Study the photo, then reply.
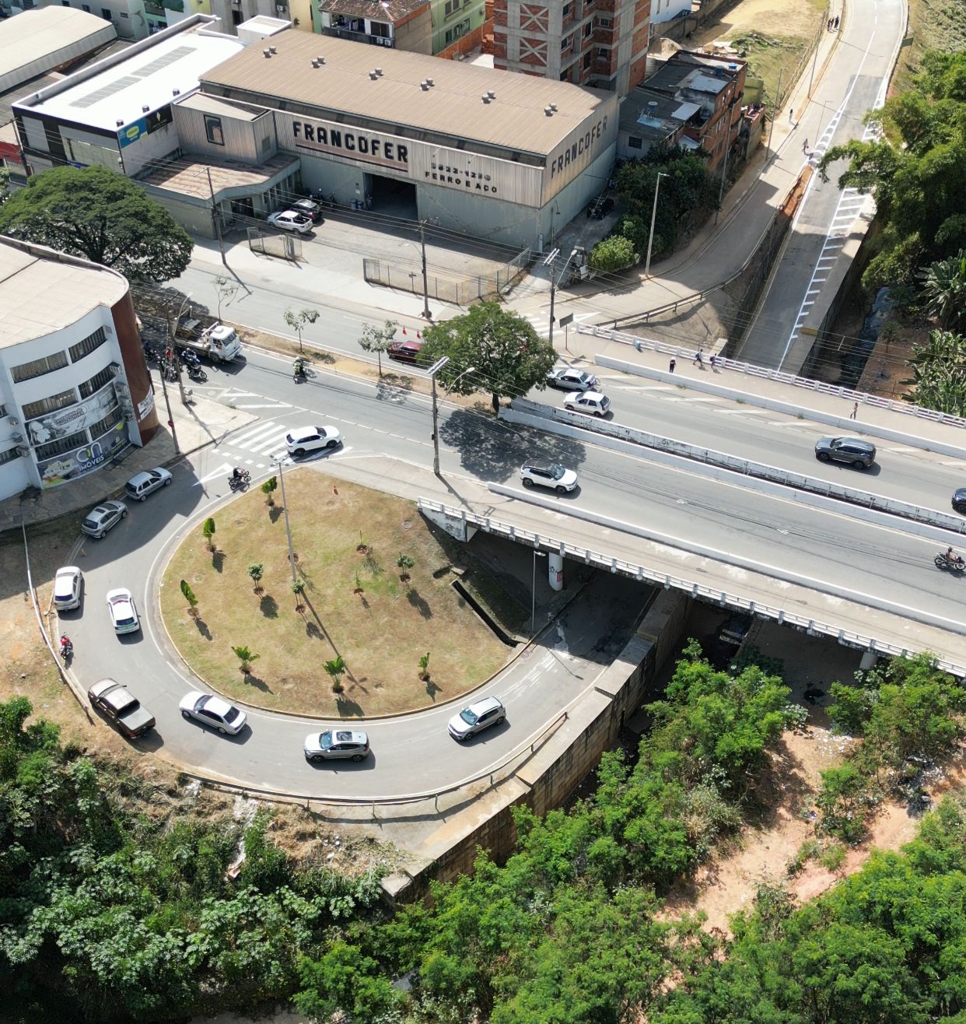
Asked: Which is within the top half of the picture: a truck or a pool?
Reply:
truck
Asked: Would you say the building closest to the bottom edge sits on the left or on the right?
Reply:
left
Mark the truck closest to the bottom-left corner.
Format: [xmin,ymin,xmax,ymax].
[88,679,155,745]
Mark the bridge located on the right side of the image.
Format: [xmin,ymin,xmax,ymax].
[414,326,966,707]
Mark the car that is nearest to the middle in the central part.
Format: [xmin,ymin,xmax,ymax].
[517,459,579,495]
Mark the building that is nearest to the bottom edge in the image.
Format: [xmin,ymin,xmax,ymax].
[0,234,160,498]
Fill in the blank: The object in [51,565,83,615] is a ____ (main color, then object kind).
white car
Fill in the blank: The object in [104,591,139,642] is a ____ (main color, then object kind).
white car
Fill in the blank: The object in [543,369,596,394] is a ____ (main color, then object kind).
gray car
